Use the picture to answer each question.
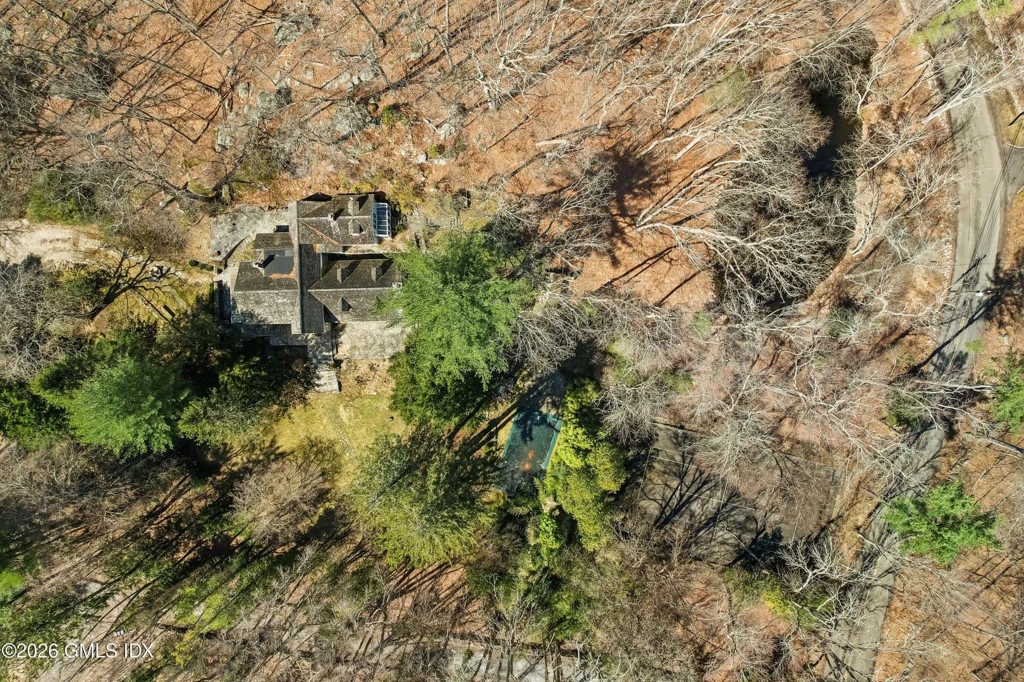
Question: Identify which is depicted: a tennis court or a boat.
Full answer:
The one in the frame is a tennis court.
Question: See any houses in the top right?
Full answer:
No, no house appears in the top right.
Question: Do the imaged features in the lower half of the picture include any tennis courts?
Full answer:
Yes, you'll find a tennis court in the lower half of the picture.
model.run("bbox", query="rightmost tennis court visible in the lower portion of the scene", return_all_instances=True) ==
[617,420,829,581]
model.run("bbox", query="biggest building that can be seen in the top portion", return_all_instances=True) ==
[230,194,407,335]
